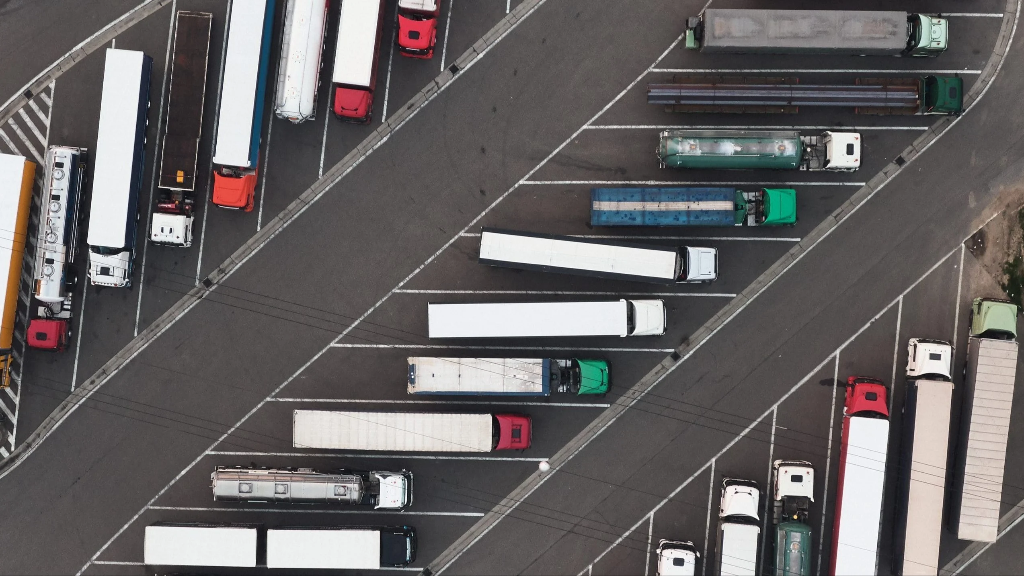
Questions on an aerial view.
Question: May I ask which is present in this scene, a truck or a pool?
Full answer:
It is a truck that can be seen here.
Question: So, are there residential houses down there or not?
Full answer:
No, there is no residential house in the image.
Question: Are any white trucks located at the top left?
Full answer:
Yes, a white truck shows up at the top left.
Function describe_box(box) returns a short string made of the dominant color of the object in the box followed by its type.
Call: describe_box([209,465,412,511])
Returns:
white truck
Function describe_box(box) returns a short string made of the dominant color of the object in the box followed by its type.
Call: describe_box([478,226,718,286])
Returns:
white truck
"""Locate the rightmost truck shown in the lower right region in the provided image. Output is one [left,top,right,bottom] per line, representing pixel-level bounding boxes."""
[946,298,1018,543]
